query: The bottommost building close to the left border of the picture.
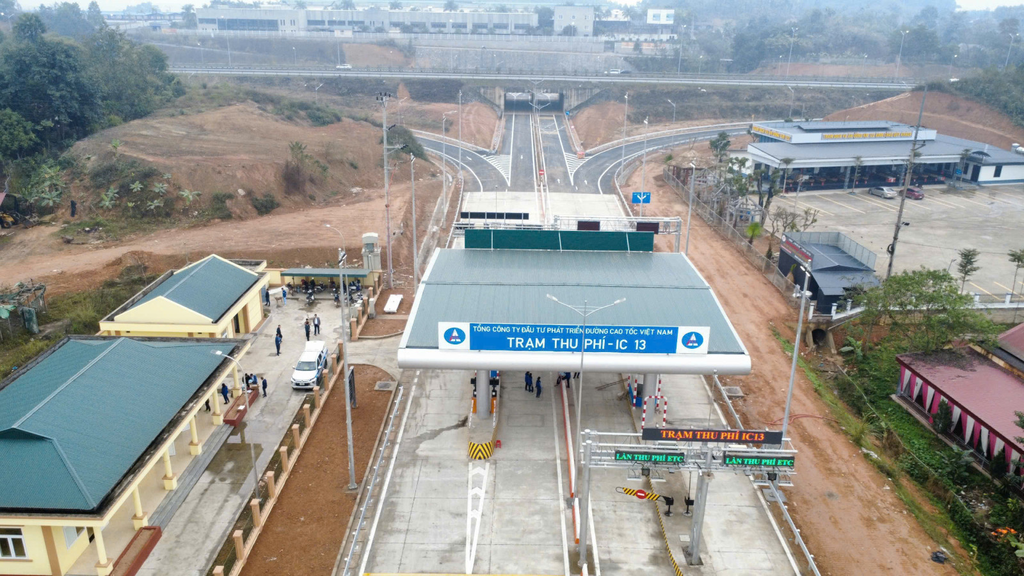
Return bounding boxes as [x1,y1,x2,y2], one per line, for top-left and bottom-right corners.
[0,334,251,576]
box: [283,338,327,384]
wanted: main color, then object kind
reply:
white truck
